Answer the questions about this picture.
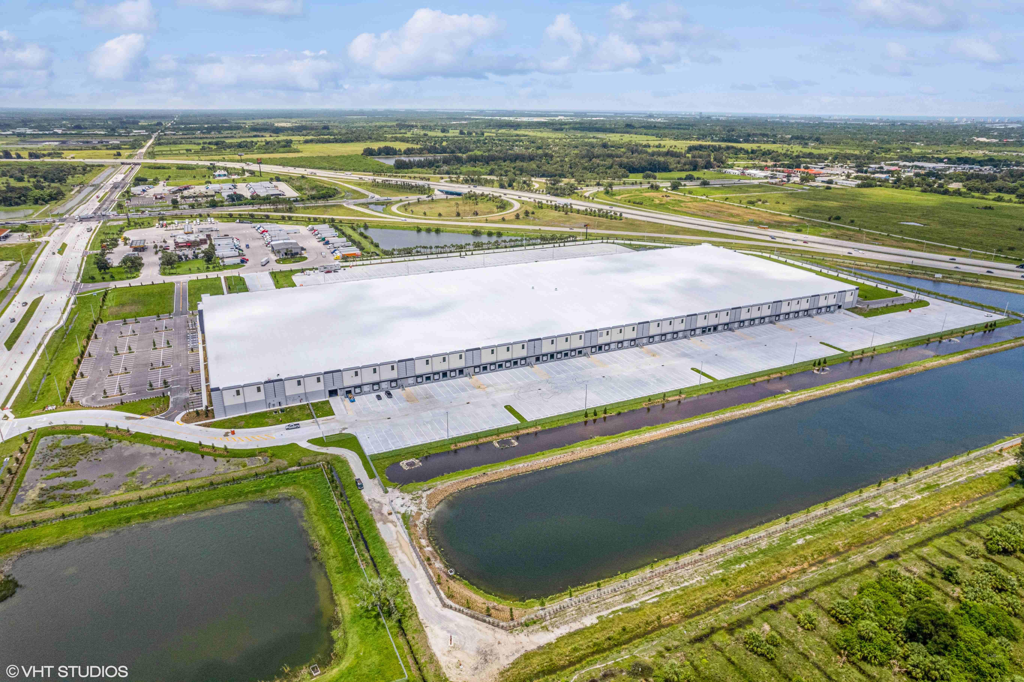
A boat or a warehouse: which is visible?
warehouse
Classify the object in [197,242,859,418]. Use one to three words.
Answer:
warehouse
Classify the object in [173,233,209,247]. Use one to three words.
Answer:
building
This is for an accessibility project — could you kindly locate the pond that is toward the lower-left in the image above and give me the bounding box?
[0,496,337,682]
